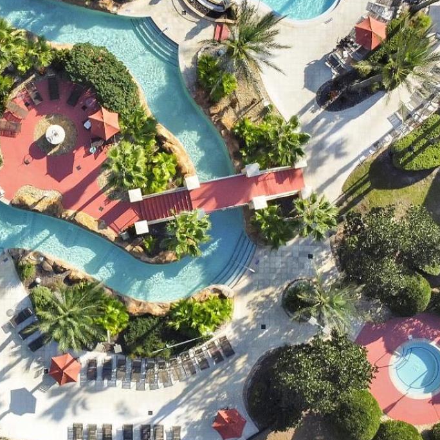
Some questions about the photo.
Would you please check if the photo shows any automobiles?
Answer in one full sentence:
No, the picture doesn't show any automobile.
